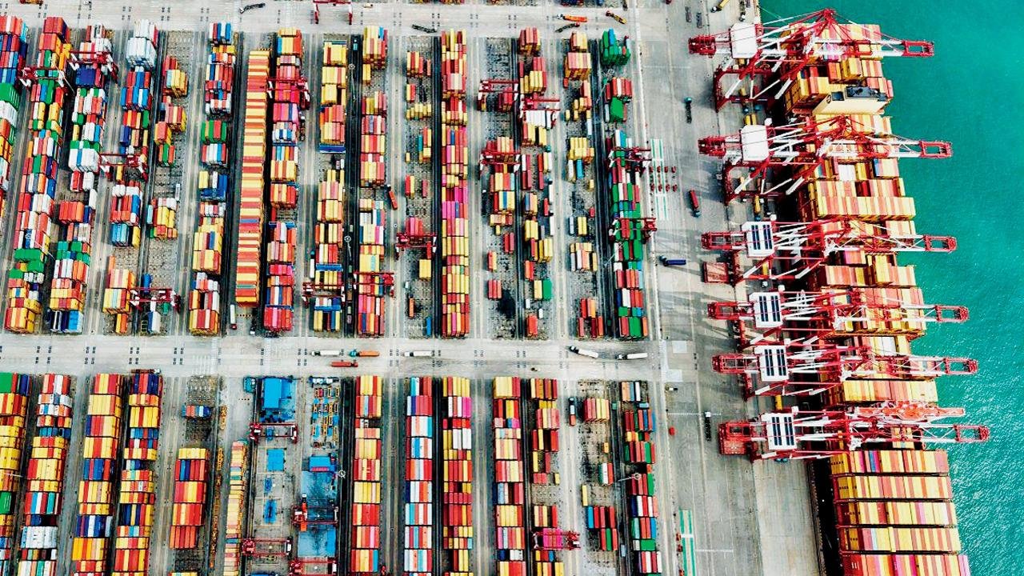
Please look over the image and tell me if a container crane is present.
Yes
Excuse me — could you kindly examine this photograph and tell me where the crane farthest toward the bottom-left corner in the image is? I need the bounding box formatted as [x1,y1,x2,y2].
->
[242,531,293,562]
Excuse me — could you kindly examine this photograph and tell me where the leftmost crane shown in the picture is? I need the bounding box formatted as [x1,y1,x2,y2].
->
[26,66,78,99]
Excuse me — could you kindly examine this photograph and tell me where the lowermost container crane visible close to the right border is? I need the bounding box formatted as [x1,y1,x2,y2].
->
[717,408,992,465]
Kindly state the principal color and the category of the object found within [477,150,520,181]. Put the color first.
red container crane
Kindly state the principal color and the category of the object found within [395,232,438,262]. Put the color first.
red container crane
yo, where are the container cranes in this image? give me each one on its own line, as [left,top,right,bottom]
[288,554,337,576]
[698,115,955,198]
[701,214,960,288]
[249,421,297,448]
[242,531,293,562]
[717,408,992,465]
[350,271,393,300]
[313,0,353,24]
[477,150,520,181]
[395,232,438,262]
[300,281,345,311]
[528,525,578,556]
[707,287,972,352]
[476,79,518,111]
[100,152,150,184]
[688,7,936,101]
[712,340,981,402]
[26,66,78,99]
[290,501,338,531]
[603,147,650,178]
[517,98,560,130]
[70,49,120,83]
[607,216,655,246]
[269,75,312,108]
[130,286,181,315]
